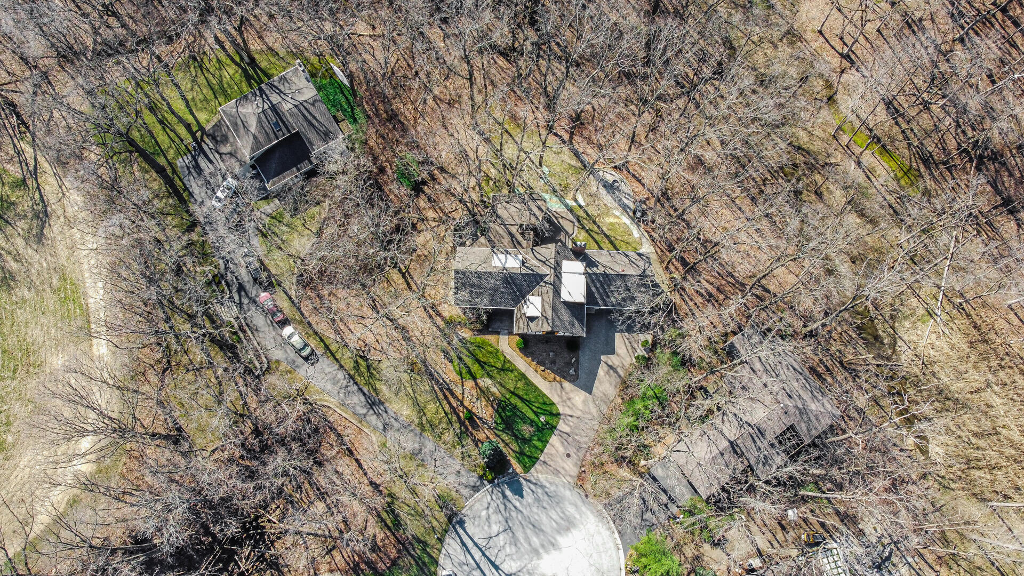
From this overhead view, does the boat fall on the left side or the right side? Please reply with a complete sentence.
The boat appears in the left half of the scene.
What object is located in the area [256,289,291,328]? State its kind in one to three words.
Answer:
car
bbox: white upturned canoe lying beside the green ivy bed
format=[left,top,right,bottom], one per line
[331,63,351,89]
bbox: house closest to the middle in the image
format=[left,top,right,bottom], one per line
[454,239,662,337]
